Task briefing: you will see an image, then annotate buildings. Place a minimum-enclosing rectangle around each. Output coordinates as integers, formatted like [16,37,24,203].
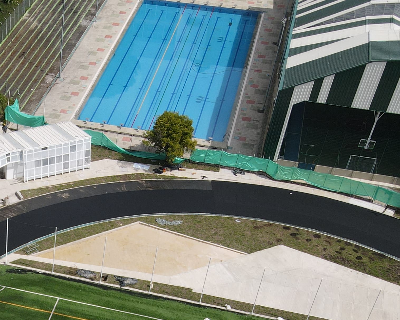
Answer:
[260,0,400,187]
[0,122,93,183]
